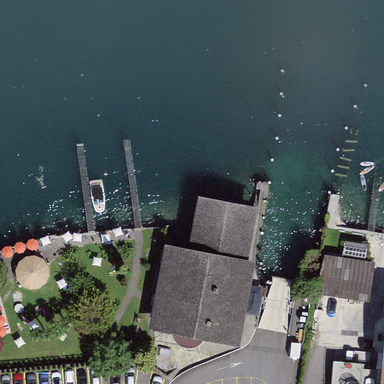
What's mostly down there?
water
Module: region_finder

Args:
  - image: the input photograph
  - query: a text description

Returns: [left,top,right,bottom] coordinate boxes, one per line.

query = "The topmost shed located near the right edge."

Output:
[344,240,368,257]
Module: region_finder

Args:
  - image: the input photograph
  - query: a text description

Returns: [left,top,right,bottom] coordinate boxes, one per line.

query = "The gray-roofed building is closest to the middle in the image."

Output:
[188,196,259,259]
